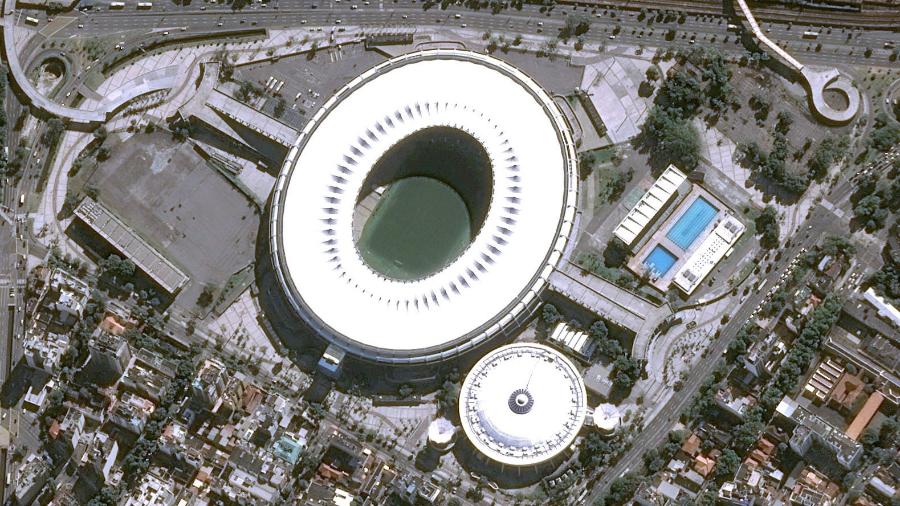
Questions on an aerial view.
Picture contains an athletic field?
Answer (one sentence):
Yes, the frame does contain an athletic field.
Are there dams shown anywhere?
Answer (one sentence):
No, no dam is visible in the scene.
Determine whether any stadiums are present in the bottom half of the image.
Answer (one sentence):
Yes, you'll find a stadium in the bottom half of the image.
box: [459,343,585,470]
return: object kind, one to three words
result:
stadium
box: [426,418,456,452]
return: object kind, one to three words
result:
building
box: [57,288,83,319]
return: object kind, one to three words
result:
building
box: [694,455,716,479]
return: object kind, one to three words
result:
house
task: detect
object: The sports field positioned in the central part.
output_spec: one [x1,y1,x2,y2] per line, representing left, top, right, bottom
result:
[368,158,478,275]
